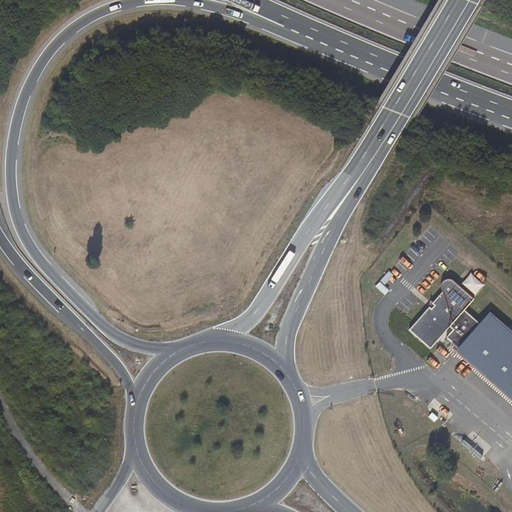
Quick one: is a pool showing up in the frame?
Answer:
No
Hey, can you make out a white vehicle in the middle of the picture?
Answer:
Yes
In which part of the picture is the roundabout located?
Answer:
bottom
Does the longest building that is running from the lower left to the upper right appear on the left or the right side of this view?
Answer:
right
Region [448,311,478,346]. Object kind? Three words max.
building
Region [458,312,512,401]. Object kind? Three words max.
hangar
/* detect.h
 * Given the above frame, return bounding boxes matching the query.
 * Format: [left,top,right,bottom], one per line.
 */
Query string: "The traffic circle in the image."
[124,328,316,512]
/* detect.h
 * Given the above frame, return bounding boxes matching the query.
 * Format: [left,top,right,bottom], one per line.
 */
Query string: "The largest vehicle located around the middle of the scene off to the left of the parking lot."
[268,248,294,287]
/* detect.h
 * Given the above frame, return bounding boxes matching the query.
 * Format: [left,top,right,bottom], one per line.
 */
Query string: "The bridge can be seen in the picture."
[373,0,483,130]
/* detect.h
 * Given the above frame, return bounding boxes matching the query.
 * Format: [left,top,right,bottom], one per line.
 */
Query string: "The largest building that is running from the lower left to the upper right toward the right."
[410,279,474,348]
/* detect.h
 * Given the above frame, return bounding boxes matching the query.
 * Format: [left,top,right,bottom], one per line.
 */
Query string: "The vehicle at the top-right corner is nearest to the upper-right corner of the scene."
[457,44,478,56]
